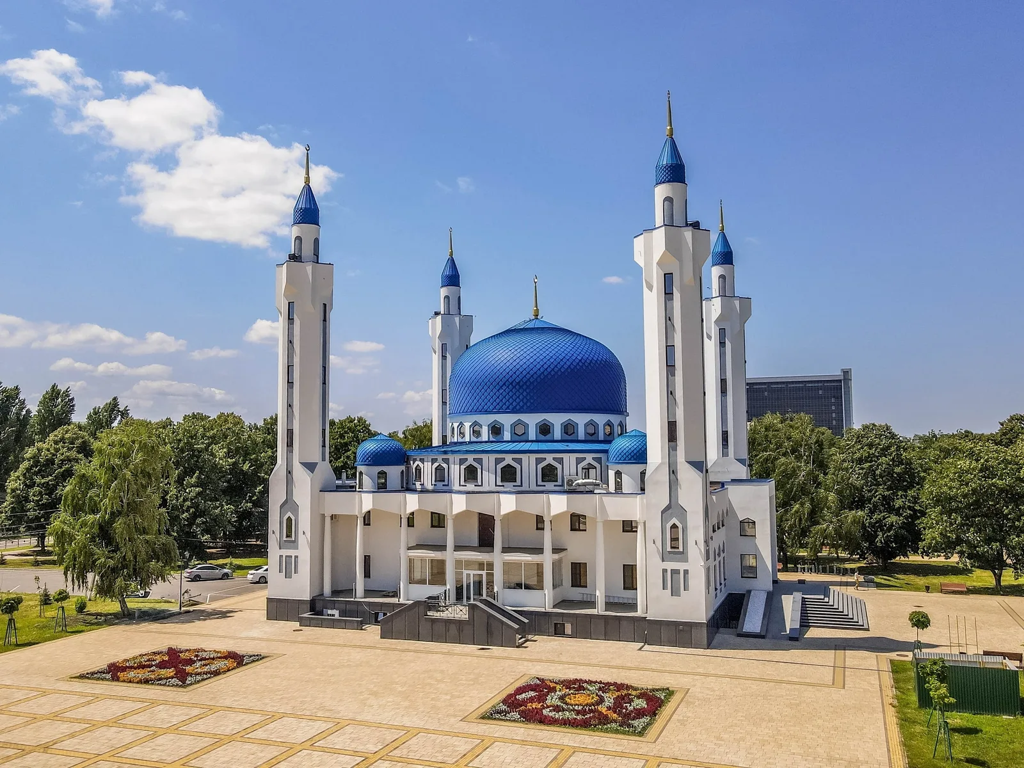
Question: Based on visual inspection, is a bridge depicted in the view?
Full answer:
No, I can't see a single bridge in this photo.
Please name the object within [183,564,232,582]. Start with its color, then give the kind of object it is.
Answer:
gray car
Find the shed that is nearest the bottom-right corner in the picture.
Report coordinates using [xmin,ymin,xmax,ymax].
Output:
[908,651,1020,716]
